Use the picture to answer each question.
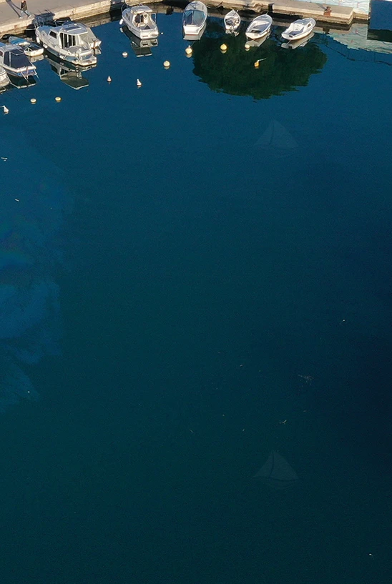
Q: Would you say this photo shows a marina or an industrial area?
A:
marina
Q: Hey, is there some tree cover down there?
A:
No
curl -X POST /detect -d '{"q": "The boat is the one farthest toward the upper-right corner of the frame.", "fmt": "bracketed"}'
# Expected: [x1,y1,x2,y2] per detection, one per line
[279,19,312,42]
